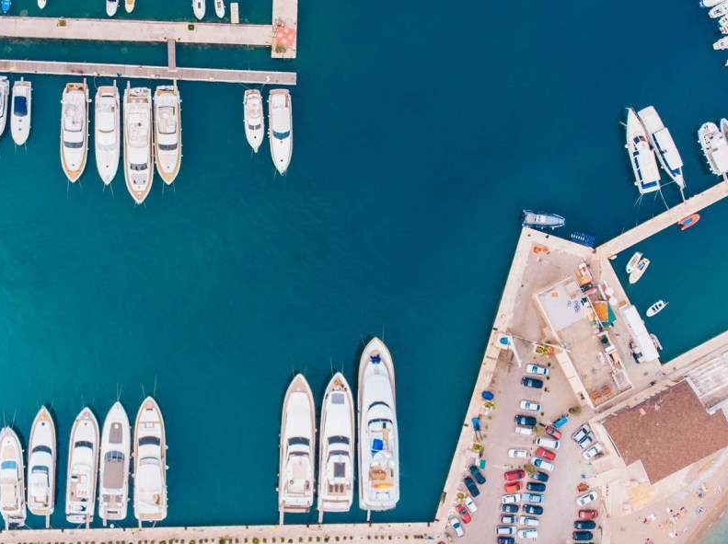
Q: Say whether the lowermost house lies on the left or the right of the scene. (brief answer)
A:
right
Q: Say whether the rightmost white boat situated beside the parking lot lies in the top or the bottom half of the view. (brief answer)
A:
bottom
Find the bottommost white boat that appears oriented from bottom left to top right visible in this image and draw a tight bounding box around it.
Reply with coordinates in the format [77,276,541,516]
[646,299,667,316]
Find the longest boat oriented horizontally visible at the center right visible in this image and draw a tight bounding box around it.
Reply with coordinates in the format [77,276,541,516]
[522,210,565,229]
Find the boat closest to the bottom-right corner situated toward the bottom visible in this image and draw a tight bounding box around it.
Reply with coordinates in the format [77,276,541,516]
[651,334,664,353]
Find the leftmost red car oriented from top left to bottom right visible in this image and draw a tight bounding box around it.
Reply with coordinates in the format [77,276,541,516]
[454,503,473,524]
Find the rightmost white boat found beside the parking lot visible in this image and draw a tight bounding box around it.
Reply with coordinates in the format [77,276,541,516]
[355,324,400,524]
